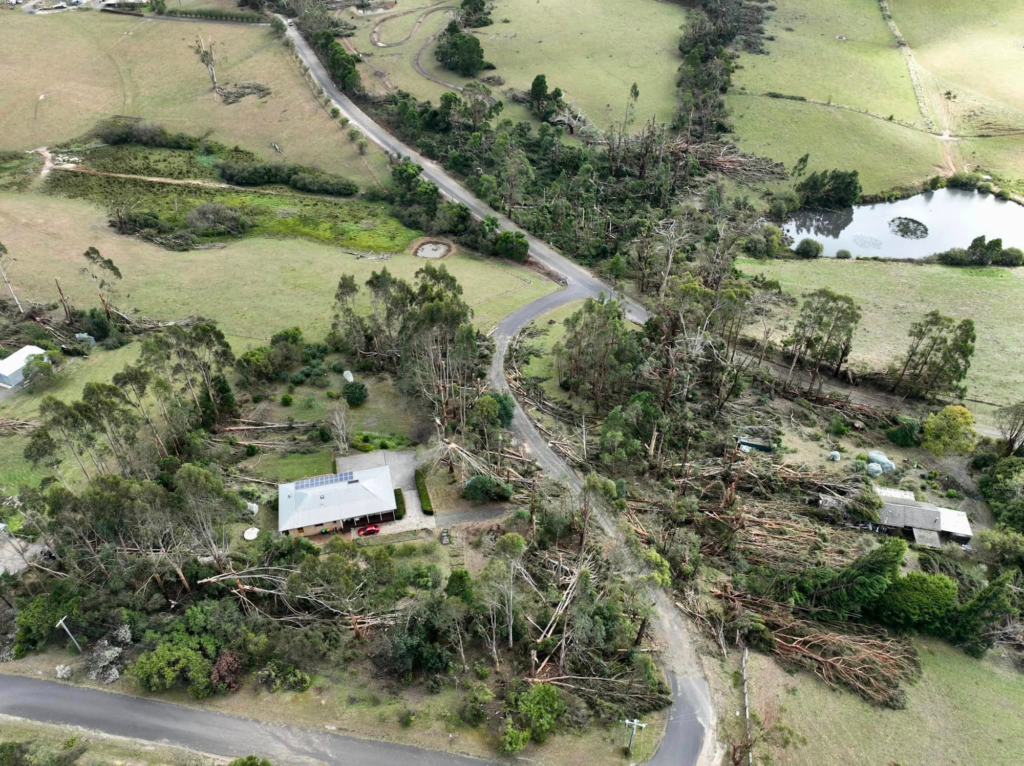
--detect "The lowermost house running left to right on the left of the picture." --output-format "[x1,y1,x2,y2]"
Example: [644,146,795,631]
[278,465,397,538]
